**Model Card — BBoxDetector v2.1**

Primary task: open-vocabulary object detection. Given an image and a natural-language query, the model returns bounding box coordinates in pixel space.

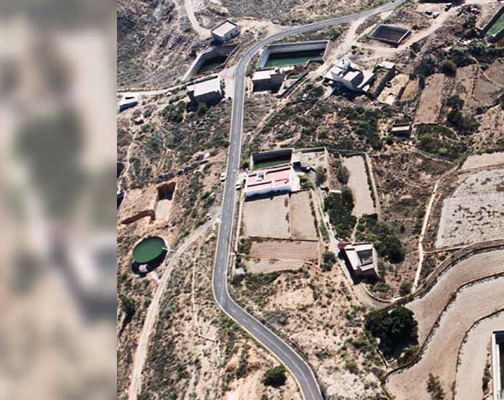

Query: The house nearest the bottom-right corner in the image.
[344,243,376,280]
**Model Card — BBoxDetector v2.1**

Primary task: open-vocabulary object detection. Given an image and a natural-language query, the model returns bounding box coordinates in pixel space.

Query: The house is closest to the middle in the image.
[244,166,299,203]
